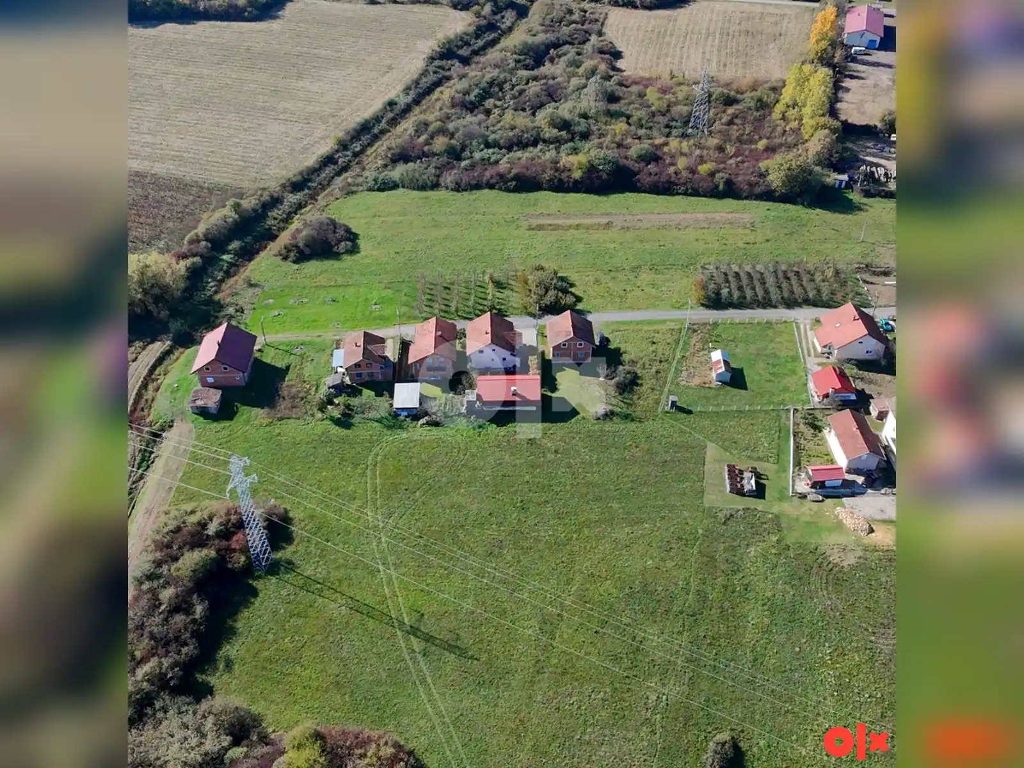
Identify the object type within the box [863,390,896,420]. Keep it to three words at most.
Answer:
building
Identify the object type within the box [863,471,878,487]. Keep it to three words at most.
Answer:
car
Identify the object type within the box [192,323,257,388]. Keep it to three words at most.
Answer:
house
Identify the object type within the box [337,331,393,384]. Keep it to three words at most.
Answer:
house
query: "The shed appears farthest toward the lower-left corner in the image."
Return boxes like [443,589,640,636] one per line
[189,393,225,415]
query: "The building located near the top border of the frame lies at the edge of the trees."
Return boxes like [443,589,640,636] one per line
[846,6,887,49]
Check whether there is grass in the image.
Yes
